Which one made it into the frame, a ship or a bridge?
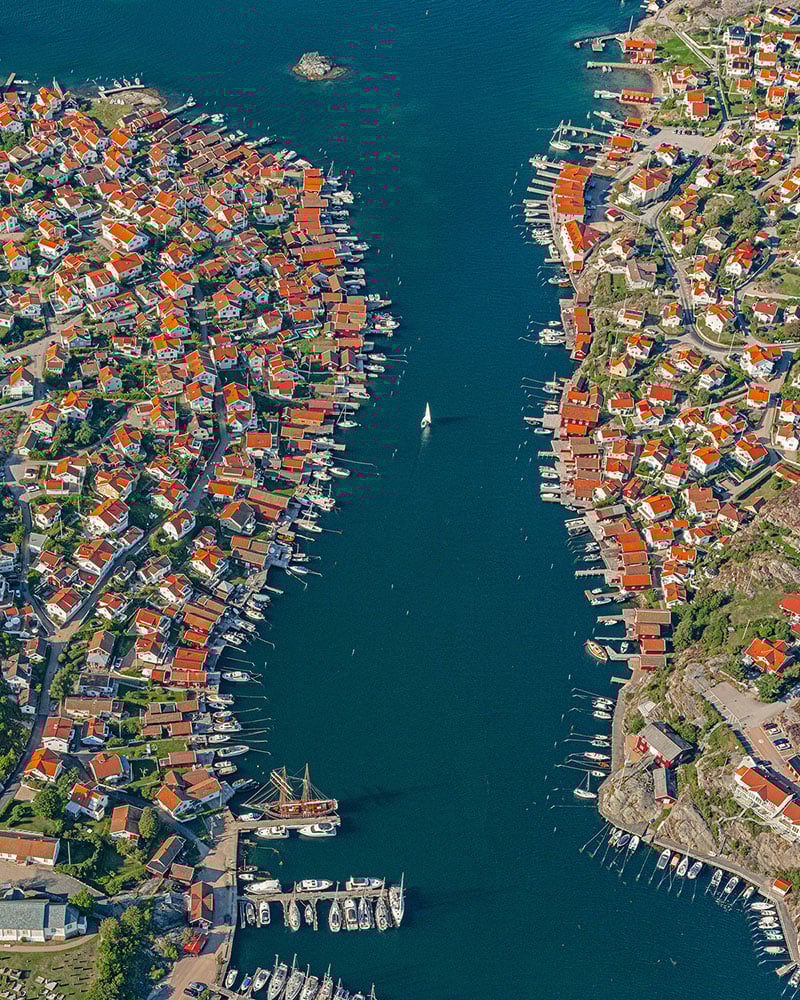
ship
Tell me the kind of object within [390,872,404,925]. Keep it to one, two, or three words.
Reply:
boat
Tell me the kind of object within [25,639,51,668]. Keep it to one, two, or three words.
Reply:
house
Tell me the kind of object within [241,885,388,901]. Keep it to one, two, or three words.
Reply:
pier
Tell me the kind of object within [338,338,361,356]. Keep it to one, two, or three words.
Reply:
building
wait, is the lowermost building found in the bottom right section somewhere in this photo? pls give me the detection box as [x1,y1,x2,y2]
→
[772,875,792,904]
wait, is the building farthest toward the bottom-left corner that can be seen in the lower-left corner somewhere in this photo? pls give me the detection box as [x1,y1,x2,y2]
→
[0,886,93,943]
